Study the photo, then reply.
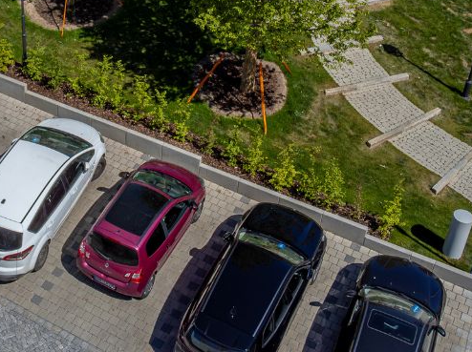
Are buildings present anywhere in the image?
No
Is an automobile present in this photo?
Yes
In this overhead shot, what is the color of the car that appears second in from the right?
black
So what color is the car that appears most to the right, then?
black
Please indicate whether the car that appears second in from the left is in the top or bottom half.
bottom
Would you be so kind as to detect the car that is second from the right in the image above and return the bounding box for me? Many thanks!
[172,200,331,352]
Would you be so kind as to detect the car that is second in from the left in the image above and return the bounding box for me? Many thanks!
[72,165,204,302]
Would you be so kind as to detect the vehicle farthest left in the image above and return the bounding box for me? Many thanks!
[0,116,108,280]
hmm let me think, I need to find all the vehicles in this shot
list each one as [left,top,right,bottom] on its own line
[0,116,108,280]
[72,165,204,302]
[172,200,331,352]
[315,251,449,352]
